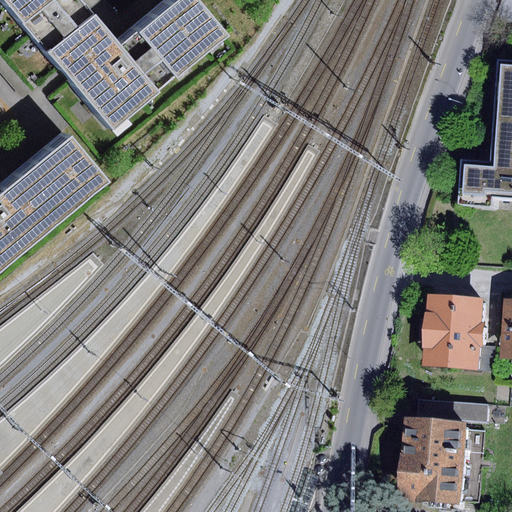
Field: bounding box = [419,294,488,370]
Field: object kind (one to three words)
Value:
house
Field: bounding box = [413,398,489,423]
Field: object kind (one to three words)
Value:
building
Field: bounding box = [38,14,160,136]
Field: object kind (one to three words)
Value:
building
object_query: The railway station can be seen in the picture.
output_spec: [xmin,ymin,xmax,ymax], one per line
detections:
[0,114,322,512]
